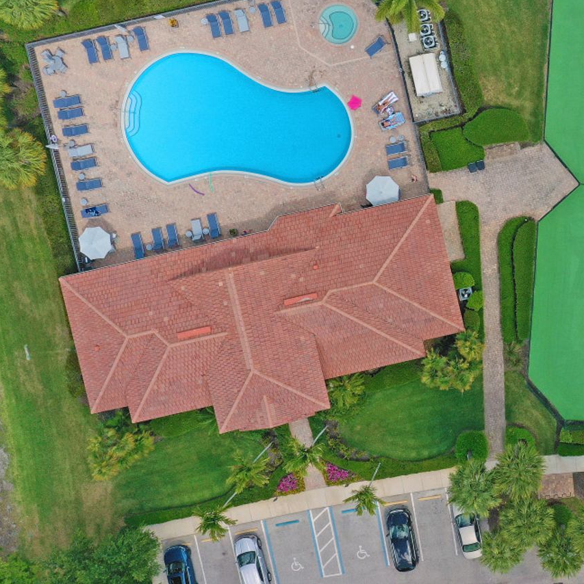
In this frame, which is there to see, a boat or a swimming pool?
swimming pool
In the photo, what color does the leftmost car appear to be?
blue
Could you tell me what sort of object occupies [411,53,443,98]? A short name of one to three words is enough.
shed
